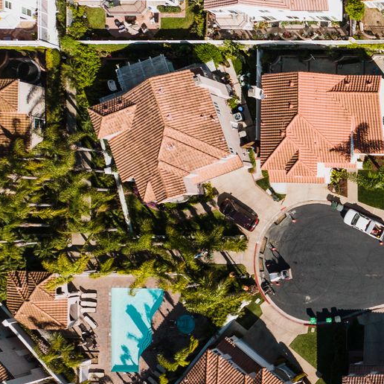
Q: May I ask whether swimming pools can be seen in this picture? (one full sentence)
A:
Yes, there's a swimming pool down there.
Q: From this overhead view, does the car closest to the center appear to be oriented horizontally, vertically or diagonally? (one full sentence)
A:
The car closest to the center is oriented diagonally.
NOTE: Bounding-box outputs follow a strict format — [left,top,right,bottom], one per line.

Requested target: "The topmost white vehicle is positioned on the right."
[341,209,384,241]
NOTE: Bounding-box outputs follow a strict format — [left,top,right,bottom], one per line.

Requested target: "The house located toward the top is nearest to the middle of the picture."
[87,67,250,213]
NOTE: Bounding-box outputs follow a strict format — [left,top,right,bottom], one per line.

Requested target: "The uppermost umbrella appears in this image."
[122,17,145,38]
